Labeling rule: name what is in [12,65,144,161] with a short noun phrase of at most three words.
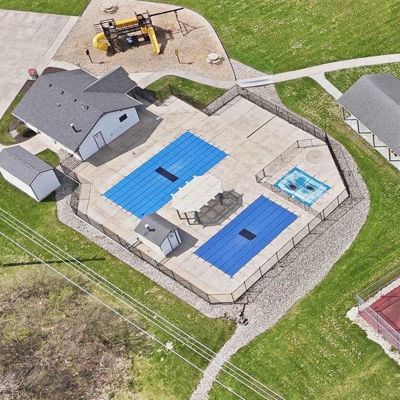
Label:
building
